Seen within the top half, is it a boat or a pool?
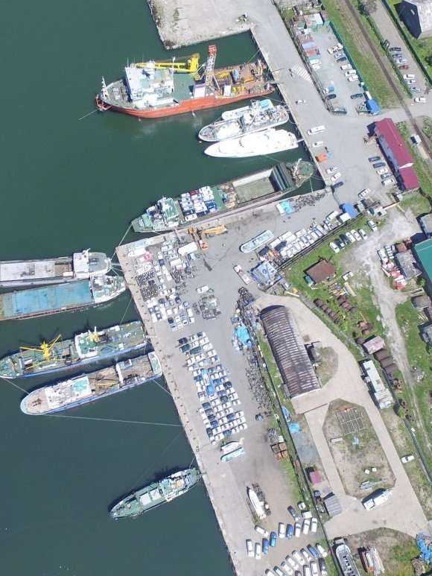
boat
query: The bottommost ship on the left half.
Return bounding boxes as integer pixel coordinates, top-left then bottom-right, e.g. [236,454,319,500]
[110,463,205,518]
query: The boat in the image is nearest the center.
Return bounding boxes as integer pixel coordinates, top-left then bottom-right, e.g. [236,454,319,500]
[241,228,275,249]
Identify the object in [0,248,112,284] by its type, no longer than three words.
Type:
ship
